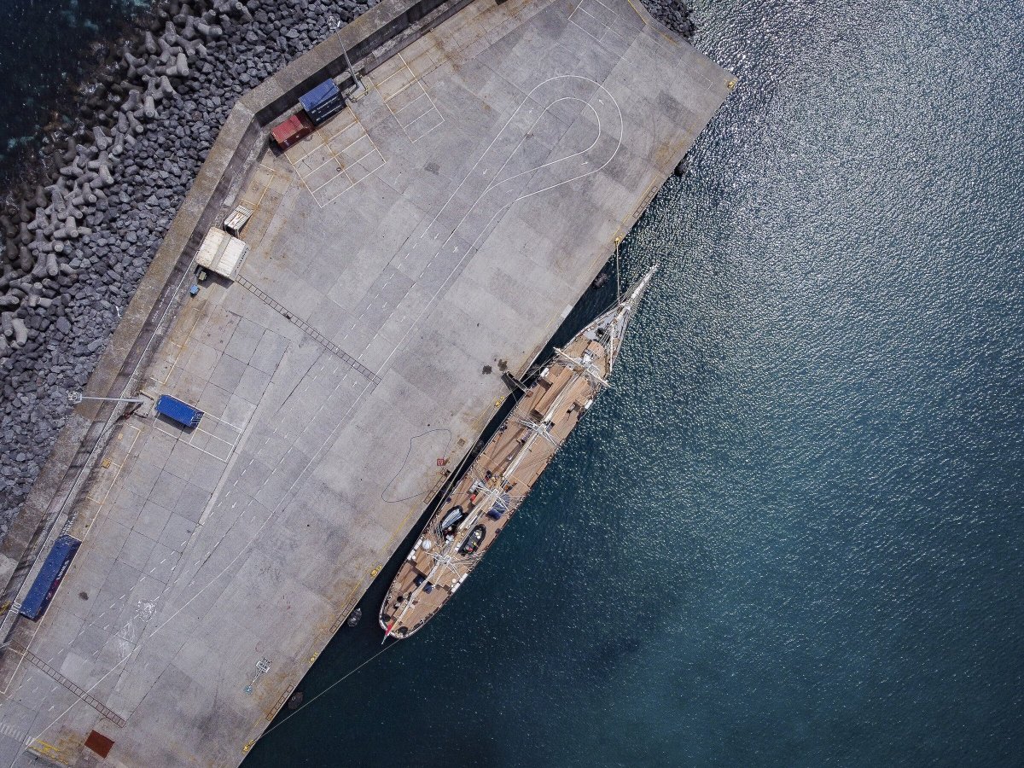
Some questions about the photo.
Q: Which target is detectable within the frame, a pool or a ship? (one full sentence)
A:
This aerial view contains a ship.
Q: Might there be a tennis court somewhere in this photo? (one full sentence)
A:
No, I can't see a single tennis court in this photo.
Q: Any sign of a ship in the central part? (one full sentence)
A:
Yes, you'll find a ship in the central part.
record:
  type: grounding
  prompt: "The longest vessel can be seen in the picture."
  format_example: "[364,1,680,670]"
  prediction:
[379,264,657,643]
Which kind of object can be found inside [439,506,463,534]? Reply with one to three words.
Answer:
boat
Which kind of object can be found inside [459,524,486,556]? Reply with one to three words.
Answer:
boat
